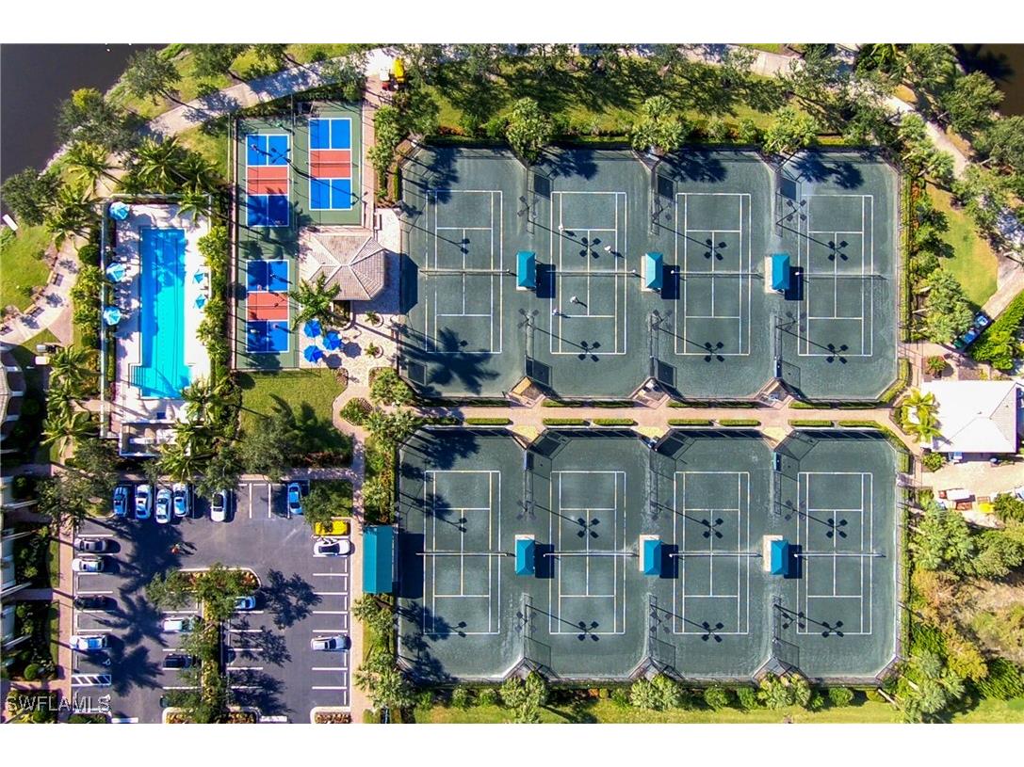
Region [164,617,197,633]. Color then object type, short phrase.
white car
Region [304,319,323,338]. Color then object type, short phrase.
blue umbrella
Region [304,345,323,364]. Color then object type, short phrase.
blue umbrella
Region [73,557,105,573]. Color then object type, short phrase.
white car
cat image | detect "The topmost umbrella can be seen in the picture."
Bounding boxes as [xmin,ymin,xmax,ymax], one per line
[110,201,130,220]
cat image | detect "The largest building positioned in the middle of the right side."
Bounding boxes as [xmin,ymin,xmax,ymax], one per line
[914,380,1018,453]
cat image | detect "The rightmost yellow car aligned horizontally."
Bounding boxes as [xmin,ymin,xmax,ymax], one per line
[316,520,347,535]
